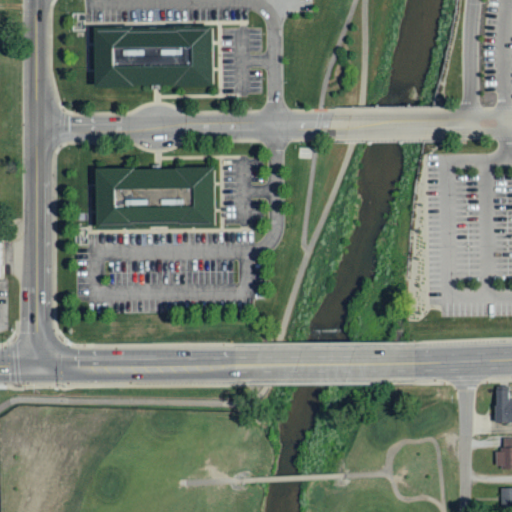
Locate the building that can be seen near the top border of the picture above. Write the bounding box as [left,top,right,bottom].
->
[94,26,214,89]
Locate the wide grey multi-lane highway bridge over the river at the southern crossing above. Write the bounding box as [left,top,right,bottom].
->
[230,342,416,387]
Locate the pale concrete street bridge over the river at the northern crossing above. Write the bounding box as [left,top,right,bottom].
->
[331,104,447,144]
